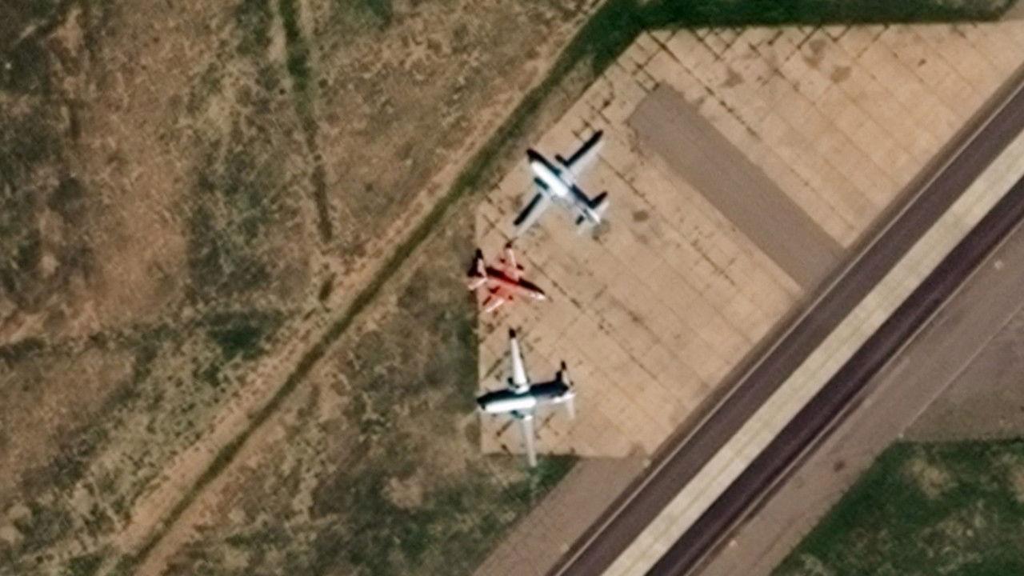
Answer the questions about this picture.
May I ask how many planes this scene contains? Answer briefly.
3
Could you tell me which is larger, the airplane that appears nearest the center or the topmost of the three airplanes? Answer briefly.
the topmost of the three airplanes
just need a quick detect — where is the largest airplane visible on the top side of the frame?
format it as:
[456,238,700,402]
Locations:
[517,141,607,235]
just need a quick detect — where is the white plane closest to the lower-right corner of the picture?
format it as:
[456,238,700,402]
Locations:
[482,339,575,464]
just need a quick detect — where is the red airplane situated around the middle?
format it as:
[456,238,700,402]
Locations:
[469,250,546,314]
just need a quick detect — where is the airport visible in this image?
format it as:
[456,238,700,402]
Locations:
[469,0,1024,576]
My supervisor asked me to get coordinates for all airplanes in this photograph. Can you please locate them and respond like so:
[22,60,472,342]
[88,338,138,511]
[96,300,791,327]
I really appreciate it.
[482,339,575,464]
[469,250,546,314]
[517,141,607,235]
